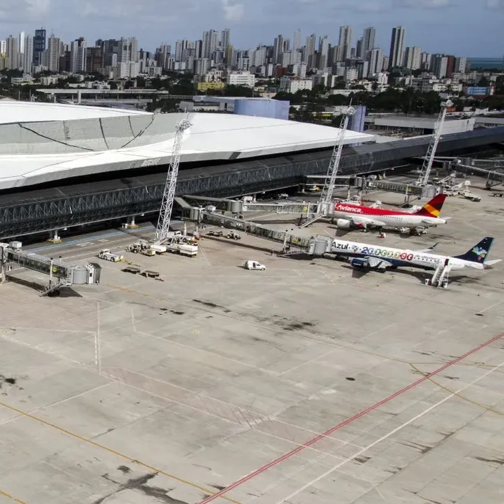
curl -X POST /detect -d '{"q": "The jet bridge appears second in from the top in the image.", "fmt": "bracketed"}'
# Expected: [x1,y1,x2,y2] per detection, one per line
[298,174,442,207]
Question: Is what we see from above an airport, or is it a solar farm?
airport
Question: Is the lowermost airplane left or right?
right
